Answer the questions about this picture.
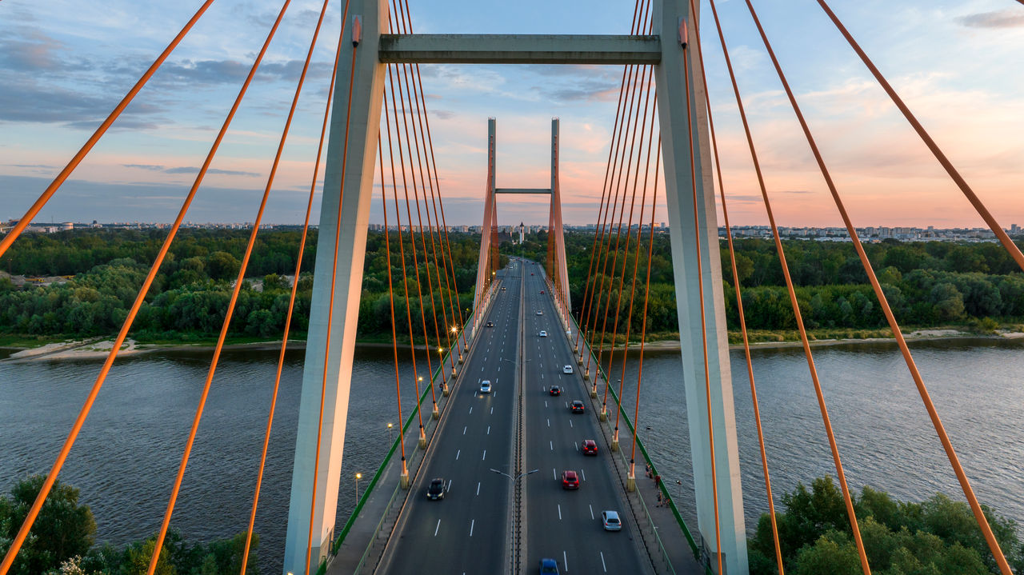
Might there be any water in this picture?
Yes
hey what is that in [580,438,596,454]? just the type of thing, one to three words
car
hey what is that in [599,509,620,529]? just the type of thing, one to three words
car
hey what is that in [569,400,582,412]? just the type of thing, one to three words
vehicle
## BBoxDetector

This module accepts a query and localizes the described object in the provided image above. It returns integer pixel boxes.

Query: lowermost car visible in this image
[537,555,559,575]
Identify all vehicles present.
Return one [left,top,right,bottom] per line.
[580,438,596,454]
[480,378,491,391]
[487,321,493,327]
[537,555,559,575]
[549,384,559,394]
[563,364,572,373]
[569,400,582,412]
[599,509,620,529]
[560,468,577,487]
[539,330,547,336]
